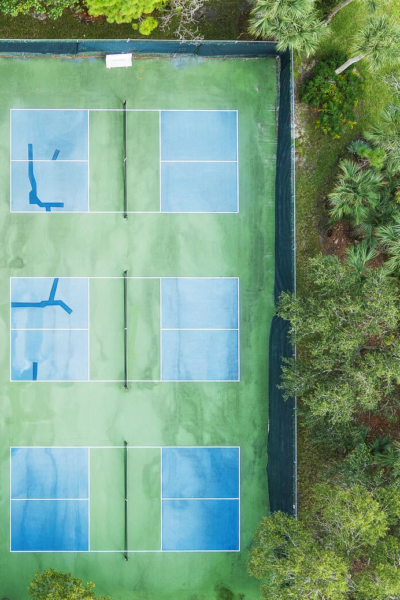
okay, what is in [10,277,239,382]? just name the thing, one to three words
sports court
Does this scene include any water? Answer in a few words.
No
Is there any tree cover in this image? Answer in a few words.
Yes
